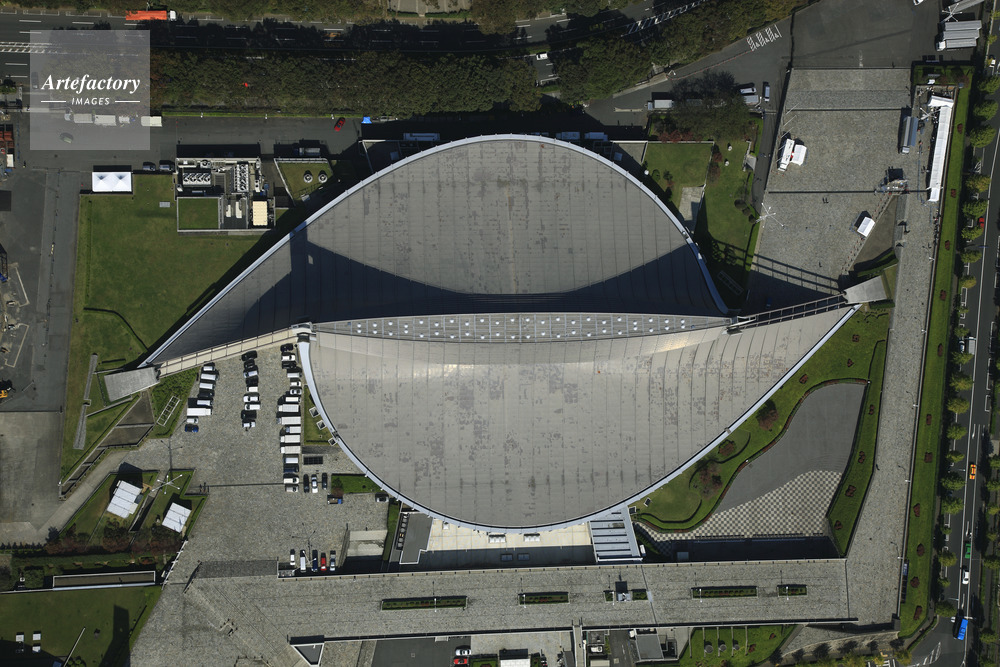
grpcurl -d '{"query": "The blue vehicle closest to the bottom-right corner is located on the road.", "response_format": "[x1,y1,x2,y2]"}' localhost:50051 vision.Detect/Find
[955,616,969,640]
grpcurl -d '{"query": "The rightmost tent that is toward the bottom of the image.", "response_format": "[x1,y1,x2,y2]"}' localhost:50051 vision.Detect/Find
[162,502,190,532]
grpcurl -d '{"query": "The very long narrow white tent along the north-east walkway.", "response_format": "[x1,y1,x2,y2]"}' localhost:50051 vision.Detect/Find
[926,105,953,202]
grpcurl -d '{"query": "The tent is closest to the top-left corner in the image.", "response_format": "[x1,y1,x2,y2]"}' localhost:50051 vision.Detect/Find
[92,172,133,193]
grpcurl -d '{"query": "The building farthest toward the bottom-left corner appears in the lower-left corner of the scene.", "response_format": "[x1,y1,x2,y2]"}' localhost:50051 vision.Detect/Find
[53,570,156,592]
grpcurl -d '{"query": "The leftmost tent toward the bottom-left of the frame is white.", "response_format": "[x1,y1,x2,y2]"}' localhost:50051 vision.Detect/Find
[107,480,141,518]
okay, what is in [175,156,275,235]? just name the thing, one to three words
building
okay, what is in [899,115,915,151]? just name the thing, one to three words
vehicle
